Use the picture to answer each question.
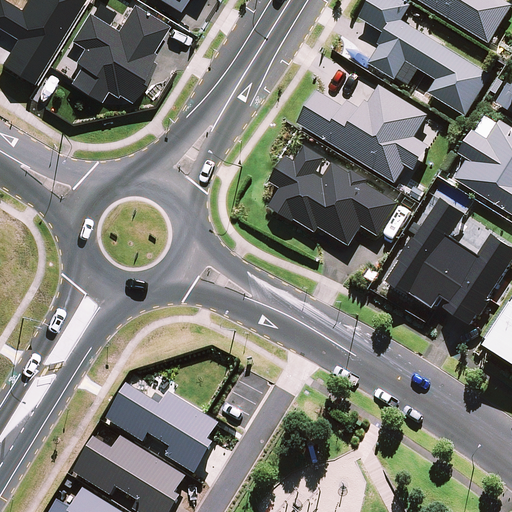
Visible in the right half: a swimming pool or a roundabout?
swimming pool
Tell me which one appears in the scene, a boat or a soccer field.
boat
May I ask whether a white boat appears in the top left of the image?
Yes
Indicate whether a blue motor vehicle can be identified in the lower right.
Yes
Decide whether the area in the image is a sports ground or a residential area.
residential area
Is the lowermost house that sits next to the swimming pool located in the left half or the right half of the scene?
right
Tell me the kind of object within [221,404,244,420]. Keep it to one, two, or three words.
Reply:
car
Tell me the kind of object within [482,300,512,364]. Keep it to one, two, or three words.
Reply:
shed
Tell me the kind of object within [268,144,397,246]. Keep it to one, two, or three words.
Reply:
house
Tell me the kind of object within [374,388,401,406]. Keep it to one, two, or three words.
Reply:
vehicle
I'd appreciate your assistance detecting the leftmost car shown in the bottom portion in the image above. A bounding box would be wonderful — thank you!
[24,353,41,378]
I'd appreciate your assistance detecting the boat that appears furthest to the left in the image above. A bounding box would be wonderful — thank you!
[42,74,60,106]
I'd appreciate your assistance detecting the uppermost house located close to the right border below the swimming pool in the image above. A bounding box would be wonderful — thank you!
[386,198,512,321]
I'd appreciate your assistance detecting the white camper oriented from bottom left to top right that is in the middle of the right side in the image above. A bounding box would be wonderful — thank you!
[384,204,411,242]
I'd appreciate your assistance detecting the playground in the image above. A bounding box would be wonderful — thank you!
[270,450,367,512]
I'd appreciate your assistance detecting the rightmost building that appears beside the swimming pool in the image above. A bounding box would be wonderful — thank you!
[454,112,512,220]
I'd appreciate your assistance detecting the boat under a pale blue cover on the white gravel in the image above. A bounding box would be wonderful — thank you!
[343,44,370,67]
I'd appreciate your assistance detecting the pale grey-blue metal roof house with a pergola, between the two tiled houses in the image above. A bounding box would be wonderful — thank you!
[358,0,484,114]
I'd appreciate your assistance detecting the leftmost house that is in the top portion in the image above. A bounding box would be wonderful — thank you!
[0,0,88,85]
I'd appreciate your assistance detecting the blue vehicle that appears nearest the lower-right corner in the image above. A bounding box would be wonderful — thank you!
[410,372,432,389]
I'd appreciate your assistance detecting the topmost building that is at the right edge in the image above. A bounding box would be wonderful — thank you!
[416,0,511,43]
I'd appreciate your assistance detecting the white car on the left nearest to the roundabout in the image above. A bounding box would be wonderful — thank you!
[80,218,94,240]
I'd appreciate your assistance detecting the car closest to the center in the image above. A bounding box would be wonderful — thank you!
[199,160,214,184]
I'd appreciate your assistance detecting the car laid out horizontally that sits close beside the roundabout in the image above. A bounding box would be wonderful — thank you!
[124,280,149,292]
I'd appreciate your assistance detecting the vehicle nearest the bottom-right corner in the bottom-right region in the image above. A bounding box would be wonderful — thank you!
[405,406,424,422]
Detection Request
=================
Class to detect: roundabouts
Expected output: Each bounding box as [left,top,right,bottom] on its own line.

[97,196,172,272]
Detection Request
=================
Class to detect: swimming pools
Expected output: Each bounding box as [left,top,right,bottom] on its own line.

[435,176,474,210]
